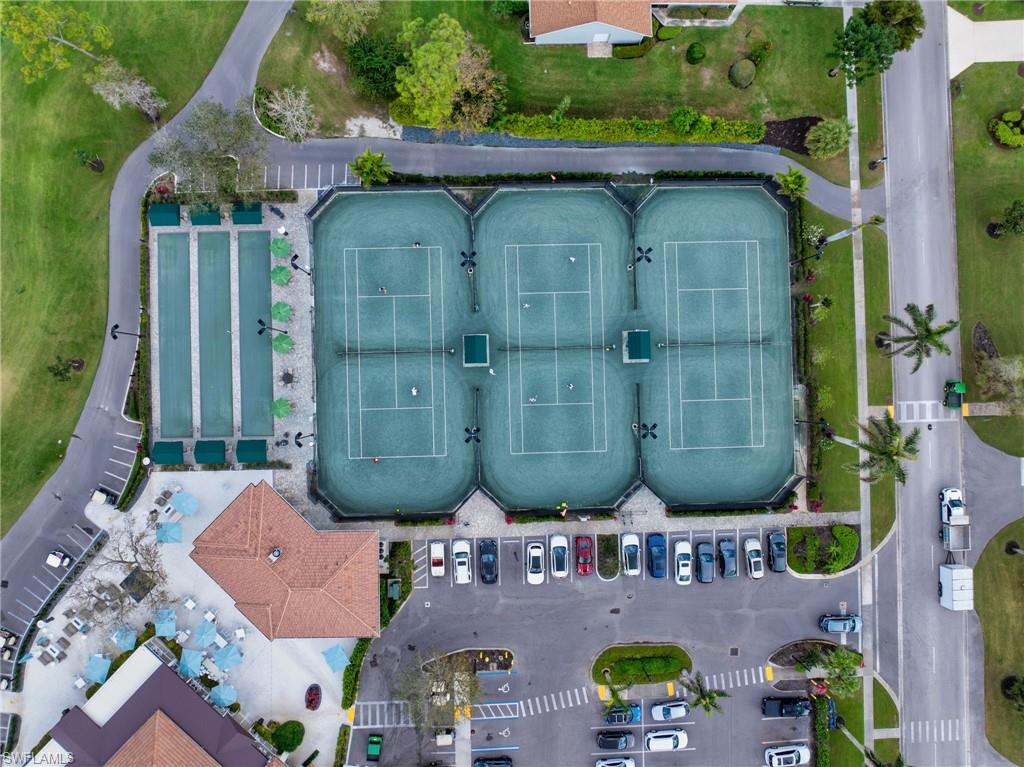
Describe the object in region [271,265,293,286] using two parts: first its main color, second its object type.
green umbrella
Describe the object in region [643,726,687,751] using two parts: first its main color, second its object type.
white car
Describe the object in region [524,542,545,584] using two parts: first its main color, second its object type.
white car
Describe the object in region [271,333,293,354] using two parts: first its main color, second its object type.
green umbrella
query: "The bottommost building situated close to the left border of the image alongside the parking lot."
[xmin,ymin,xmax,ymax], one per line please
[23,643,285,767]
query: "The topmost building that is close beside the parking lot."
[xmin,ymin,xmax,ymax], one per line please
[188,479,381,642]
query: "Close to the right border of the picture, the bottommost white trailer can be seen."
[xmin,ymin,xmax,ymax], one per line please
[938,552,974,613]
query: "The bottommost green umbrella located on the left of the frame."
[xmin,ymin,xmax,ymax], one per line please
[271,397,293,419]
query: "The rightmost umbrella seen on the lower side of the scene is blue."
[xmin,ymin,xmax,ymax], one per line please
[320,641,352,673]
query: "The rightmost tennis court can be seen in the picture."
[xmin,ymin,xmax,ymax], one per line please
[633,185,796,508]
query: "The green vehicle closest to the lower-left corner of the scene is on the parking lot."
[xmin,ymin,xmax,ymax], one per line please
[367,733,384,762]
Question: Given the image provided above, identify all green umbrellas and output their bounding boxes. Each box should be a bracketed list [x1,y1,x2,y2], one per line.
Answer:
[271,236,293,258]
[271,265,293,286]
[271,333,293,354]
[271,300,293,322]
[271,397,293,419]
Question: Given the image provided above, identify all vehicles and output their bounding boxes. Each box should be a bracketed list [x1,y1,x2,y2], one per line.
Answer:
[602,701,642,724]
[478,538,498,582]
[761,695,811,720]
[0,633,20,651]
[42,551,72,568]
[765,531,787,572]
[643,726,687,751]
[621,532,642,576]
[937,488,970,552]
[817,612,861,634]
[741,537,763,579]
[474,752,514,767]
[548,534,569,577]
[430,541,445,578]
[450,538,471,582]
[941,382,964,408]
[367,733,384,762]
[595,752,636,767]
[596,727,634,750]
[524,542,545,584]
[646,532,668,578]
[765,742,809,766]
[716,538,737,578]
[673,540,693,584]
[433,729,457,748]
[0,647,13,662]
[649,696,689,721]
[575,536,595,575]
[0,676,11,691]
[694,542,716,583]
